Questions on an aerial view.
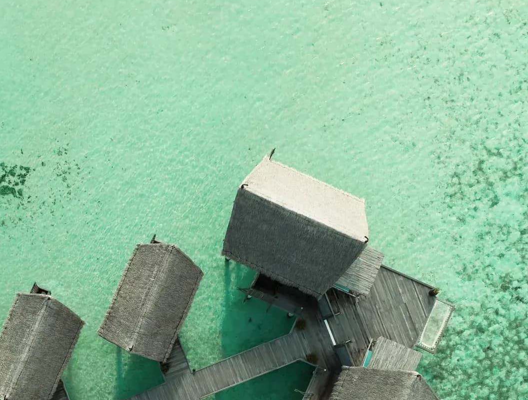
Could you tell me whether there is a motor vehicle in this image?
No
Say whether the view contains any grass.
No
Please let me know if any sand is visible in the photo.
Yes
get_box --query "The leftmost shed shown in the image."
[0,282,86,400]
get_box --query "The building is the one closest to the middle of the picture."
[221,148,370,320]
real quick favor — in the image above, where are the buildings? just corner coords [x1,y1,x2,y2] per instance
[303,366,438,400]
[221,148,370,320]
[97,235,205,361]
[0,282,86,400]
